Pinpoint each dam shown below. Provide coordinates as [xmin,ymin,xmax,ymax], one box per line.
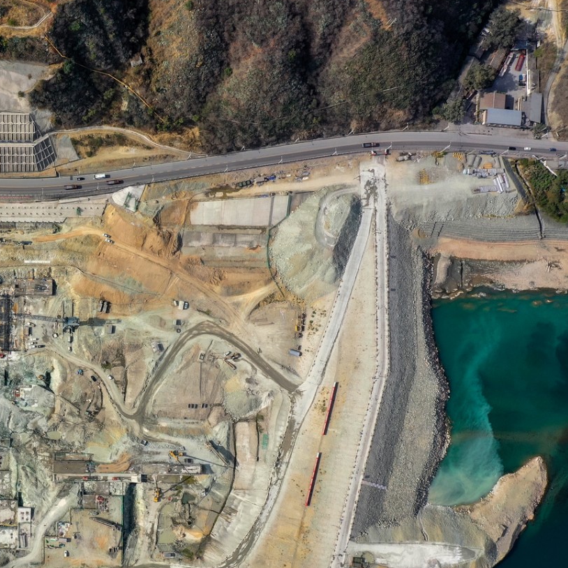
[252,154,451,568]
